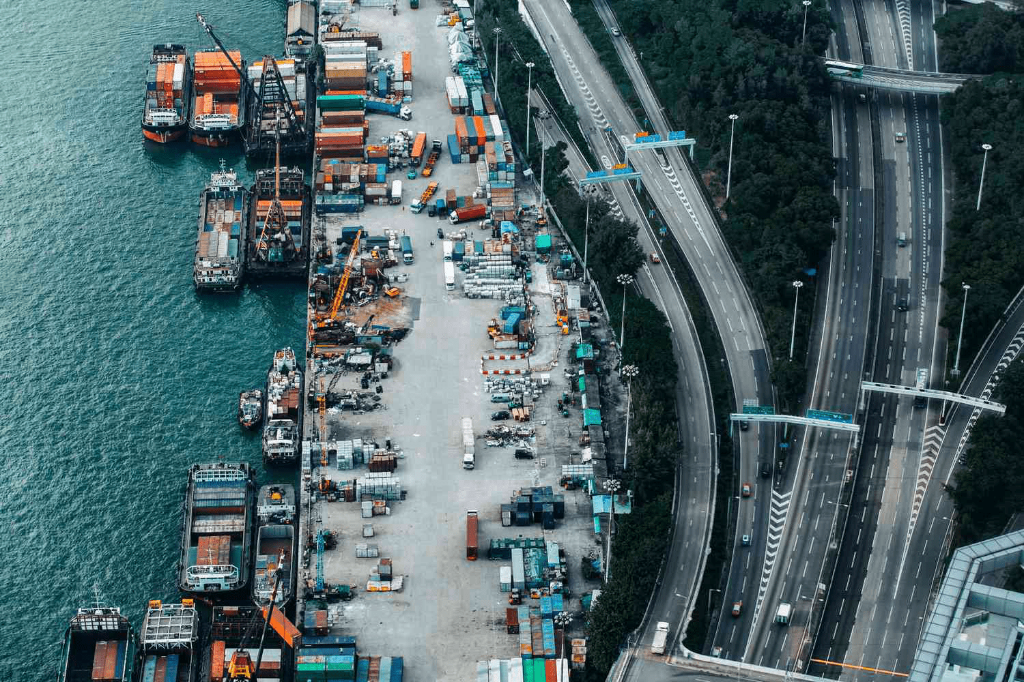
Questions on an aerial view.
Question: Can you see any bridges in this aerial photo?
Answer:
Yes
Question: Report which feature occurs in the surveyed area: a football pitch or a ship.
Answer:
ship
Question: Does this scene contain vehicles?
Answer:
Yes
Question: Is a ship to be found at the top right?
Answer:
No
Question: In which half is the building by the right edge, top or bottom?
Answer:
bottom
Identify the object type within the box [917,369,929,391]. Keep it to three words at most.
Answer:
vehicle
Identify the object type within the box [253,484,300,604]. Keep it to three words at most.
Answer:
ship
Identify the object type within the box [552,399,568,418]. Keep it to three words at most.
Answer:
work vehicle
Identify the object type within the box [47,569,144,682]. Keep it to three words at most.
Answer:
ship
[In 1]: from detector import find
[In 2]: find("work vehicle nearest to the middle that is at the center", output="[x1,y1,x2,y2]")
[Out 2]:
[482,319,502,336]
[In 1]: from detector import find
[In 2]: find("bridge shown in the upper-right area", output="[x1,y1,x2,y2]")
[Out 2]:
[806,51,1023,109]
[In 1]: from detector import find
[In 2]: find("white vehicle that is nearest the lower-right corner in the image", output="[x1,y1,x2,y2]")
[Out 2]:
[777,597,793,623]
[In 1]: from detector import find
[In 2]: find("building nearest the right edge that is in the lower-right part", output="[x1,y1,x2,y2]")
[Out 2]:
[906,528,1024,682]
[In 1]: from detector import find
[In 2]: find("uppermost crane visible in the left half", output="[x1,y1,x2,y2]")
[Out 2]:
[314,229,363,328]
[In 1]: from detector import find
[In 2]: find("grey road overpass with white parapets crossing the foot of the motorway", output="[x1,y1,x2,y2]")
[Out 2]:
[607,639,864,682]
